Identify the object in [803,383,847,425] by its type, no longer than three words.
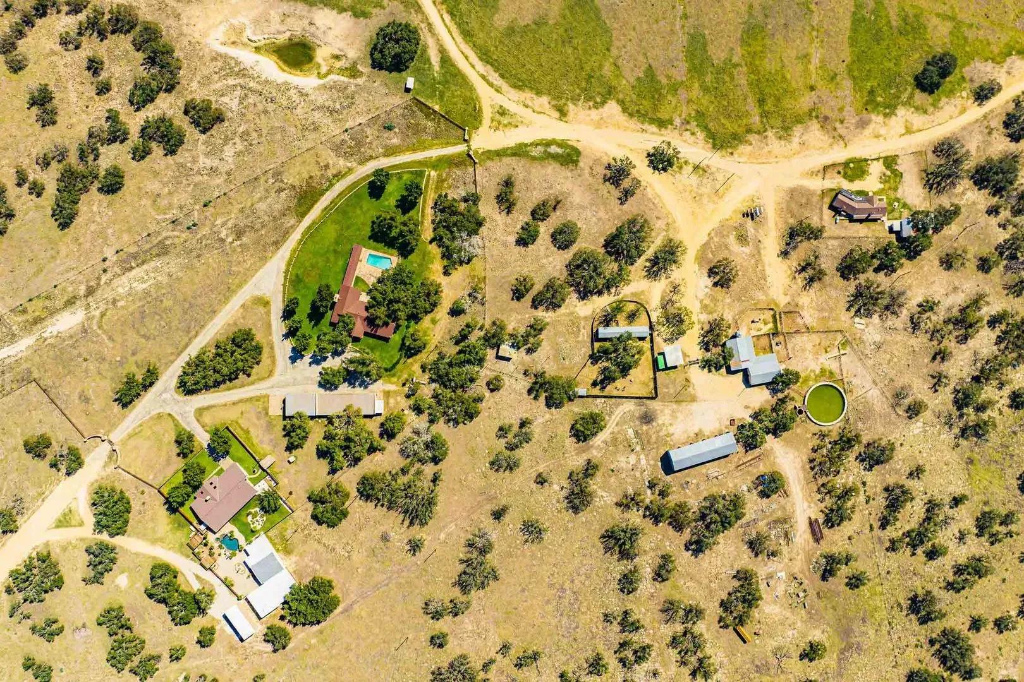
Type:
water tank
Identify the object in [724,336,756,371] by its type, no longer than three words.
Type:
barn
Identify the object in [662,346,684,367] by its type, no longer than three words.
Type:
shed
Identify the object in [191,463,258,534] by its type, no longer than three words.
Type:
house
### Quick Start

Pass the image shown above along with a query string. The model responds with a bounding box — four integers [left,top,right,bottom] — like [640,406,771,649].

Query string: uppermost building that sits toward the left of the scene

[331,245,395,338]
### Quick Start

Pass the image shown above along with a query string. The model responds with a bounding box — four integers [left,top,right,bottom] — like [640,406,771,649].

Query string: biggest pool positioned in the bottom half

[220,534,239,551]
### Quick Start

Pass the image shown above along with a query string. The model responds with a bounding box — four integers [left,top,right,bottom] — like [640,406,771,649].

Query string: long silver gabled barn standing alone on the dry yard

[666,428,738,471]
